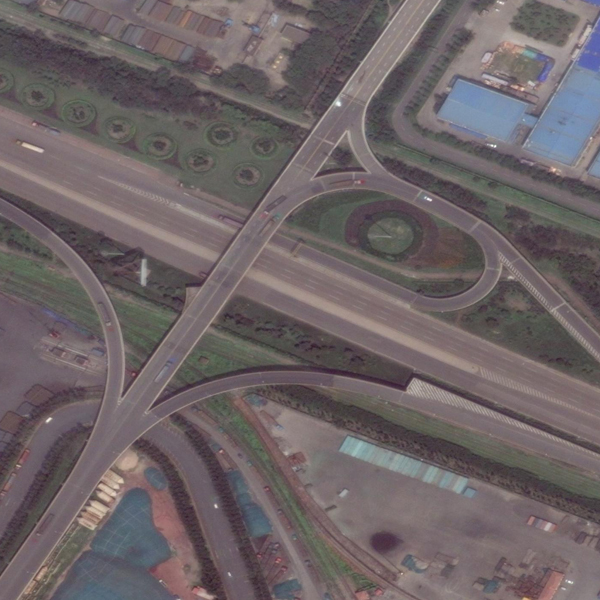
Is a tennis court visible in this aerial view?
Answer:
No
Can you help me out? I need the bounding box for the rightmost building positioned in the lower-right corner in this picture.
[539,571,567,600]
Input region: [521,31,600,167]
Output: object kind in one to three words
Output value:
building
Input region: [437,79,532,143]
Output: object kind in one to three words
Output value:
building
